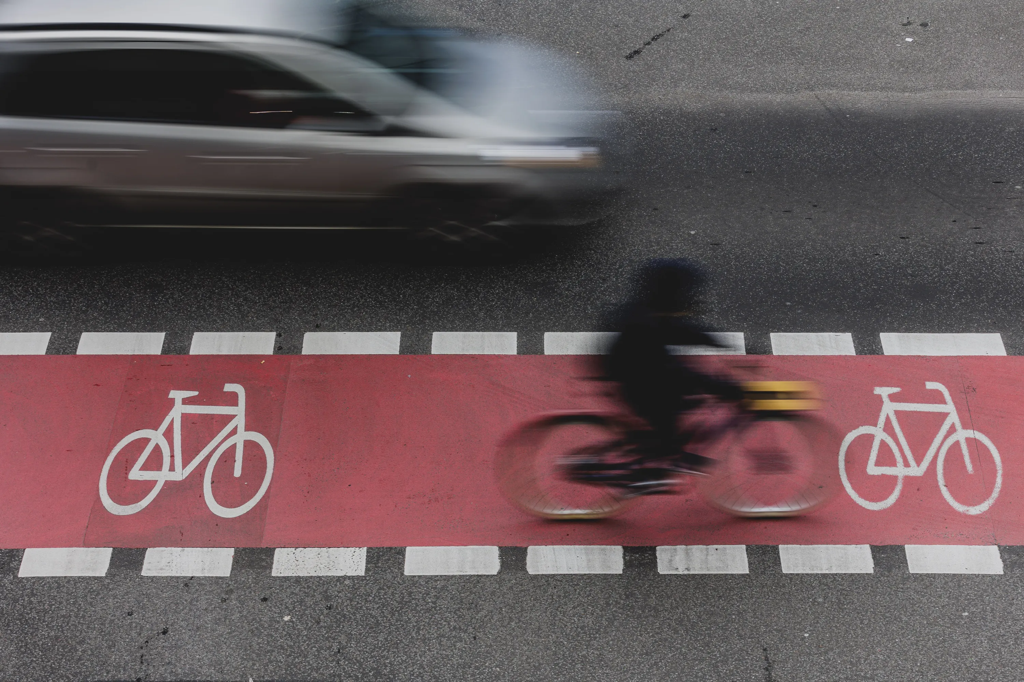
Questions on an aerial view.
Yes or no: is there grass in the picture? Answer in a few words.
No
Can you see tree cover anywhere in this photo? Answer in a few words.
No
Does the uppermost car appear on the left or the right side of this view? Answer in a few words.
left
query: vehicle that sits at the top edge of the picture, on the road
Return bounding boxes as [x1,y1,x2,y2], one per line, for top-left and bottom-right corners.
[0,0,605,268]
